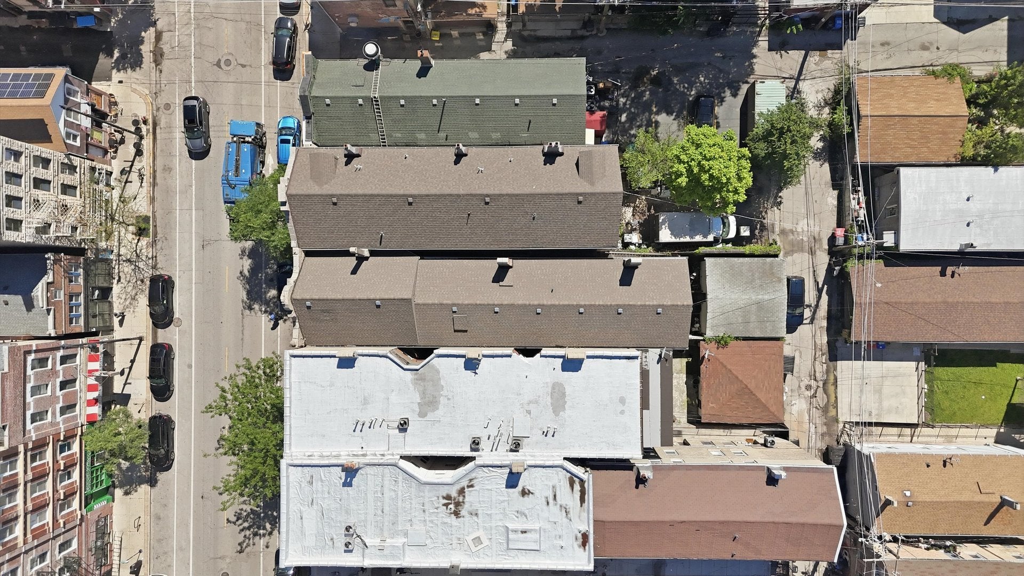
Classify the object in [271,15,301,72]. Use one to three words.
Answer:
car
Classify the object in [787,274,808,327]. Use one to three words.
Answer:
car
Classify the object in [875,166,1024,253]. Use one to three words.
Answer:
house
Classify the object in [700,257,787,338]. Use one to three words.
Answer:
building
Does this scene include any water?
No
